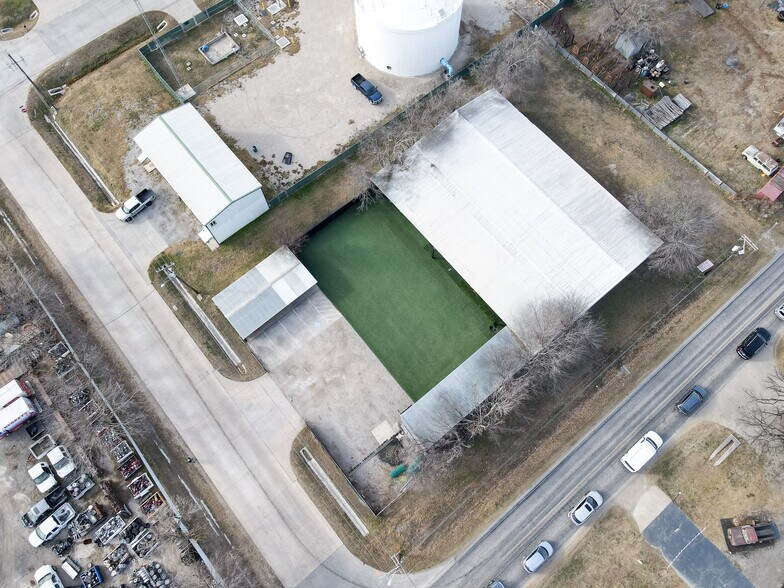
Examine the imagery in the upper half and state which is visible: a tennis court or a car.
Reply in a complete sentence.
The one visible in the upper half is a car.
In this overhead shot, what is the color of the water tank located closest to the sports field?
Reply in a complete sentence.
In this view, the water tank located closest to the sports field is white.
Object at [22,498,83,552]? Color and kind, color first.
white truck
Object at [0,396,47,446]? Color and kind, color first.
white trailer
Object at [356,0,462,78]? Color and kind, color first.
white water tank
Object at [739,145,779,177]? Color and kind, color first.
white car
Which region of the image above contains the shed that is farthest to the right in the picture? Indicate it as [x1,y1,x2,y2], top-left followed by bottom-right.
[748,172,784,206]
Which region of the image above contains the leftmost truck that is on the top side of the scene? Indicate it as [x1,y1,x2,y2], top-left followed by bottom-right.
[113,185,159,223]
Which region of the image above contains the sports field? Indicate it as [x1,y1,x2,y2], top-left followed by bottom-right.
[304,191,510,403]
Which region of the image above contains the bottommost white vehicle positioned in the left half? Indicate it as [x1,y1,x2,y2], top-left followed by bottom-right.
[32,564,65,588]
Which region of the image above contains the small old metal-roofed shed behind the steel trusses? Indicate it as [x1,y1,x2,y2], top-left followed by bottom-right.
[611,28,651,65]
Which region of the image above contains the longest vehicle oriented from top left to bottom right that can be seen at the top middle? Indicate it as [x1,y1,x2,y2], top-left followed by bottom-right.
[347,72,385,107]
